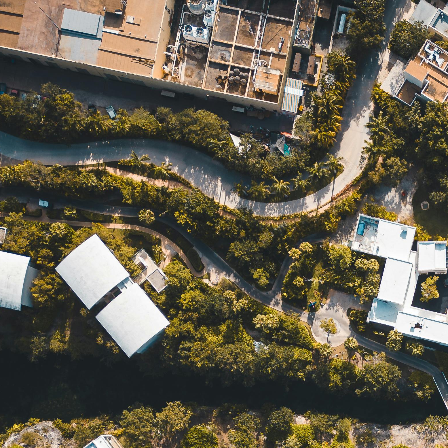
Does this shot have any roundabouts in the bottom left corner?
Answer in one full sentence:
No, there's no roundabout to be seen in the bottom left corner.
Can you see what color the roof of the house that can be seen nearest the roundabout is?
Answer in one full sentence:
From above, the roof of the house that can be seen nearest the roundabout looks white.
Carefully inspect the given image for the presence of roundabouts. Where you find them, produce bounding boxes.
[311,315,350,350]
